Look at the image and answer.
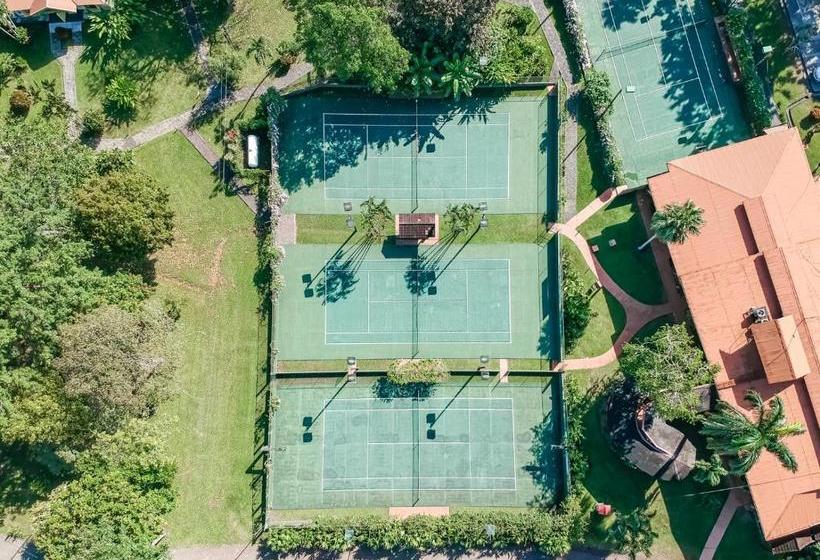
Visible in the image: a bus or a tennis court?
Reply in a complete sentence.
I can see a tennis court in this picture.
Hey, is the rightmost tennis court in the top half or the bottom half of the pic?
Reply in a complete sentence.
The rightmost tennis court sits in the top half of the picture.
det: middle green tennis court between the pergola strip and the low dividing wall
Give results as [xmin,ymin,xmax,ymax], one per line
[276,244,555,359]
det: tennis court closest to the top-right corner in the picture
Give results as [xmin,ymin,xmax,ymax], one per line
[577,0,763,187]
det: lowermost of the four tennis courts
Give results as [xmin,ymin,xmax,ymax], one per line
[269,387,564,510]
